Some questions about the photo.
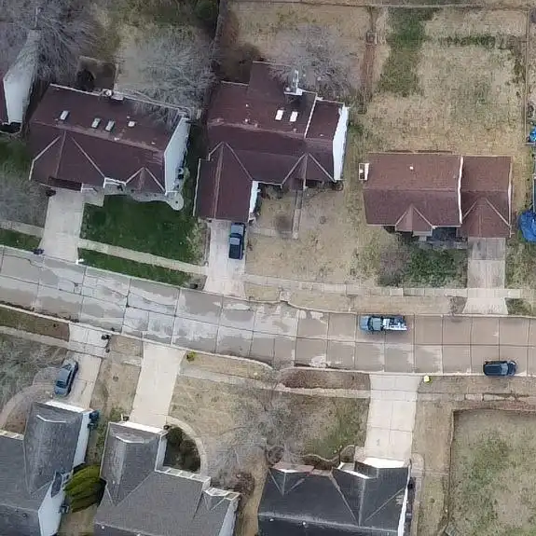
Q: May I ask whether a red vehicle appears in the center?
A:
No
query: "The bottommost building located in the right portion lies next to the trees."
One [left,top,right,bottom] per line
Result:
[256,459,412,536]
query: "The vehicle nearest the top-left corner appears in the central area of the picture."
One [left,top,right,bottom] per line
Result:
[227,221,248,260]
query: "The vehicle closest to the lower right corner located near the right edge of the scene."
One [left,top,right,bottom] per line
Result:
[484,360,516,376]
